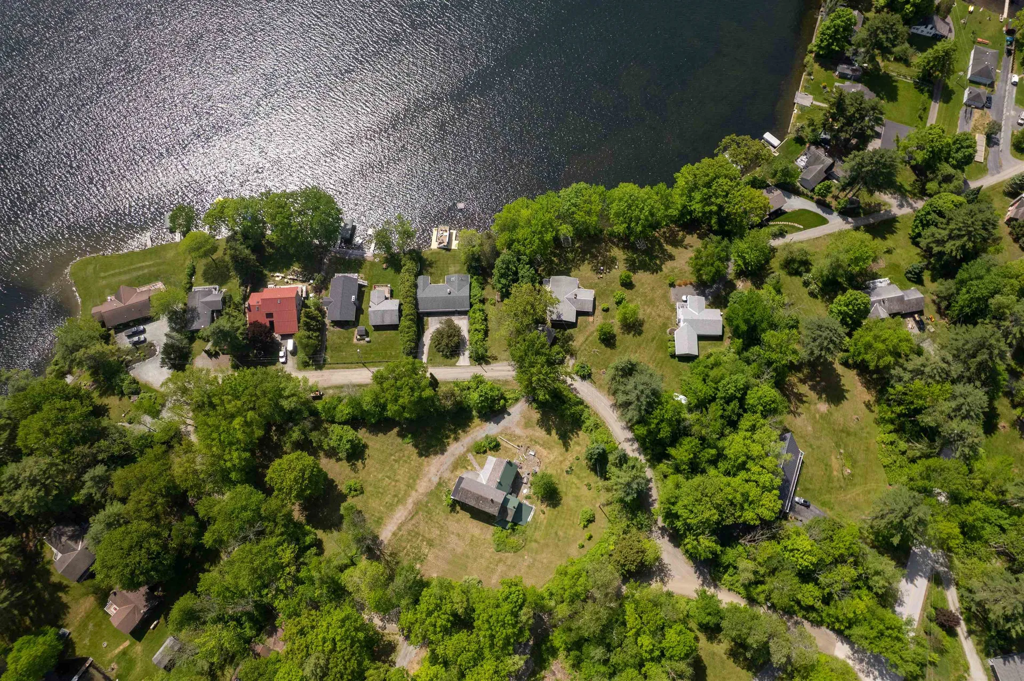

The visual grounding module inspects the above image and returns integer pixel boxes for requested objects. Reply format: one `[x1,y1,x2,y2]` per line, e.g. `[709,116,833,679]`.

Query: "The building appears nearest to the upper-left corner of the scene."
[92,281,168,329]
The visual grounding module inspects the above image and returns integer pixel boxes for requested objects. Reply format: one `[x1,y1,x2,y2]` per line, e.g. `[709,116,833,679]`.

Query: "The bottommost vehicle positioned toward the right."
[794,496,814,508]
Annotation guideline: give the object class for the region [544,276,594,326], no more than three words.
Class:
house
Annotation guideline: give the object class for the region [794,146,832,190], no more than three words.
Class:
house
